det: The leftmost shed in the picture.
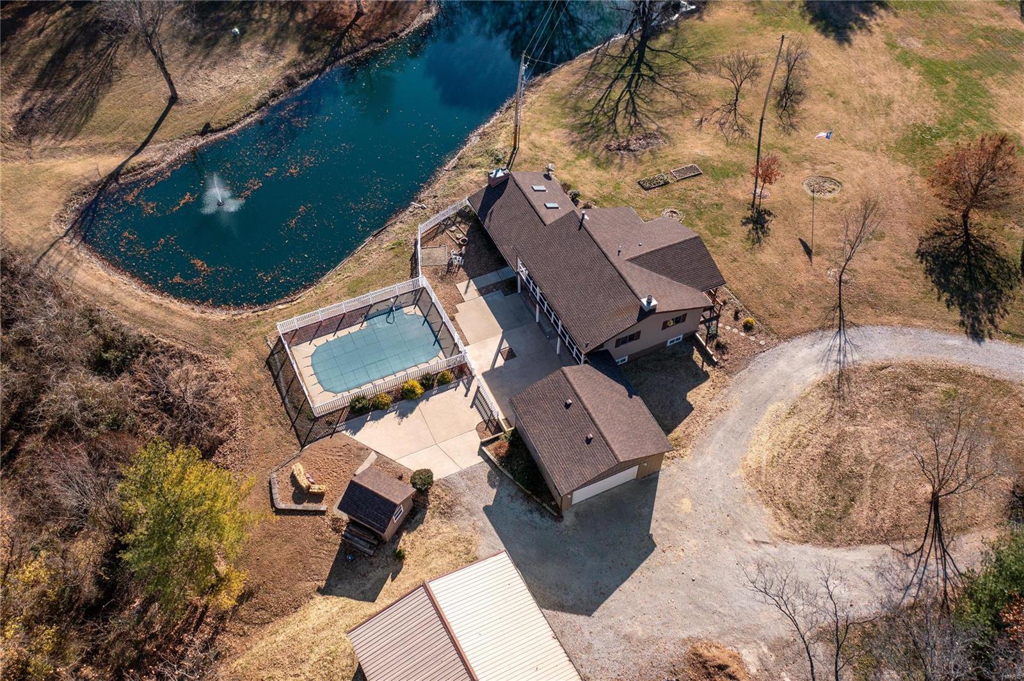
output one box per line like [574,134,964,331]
[336,466,416,540]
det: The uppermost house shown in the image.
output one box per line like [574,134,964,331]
[466,162,732,365]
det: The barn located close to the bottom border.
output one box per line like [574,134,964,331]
[346,550,581,681]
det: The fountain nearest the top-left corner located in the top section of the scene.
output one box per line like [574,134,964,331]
[183,171,249,224]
